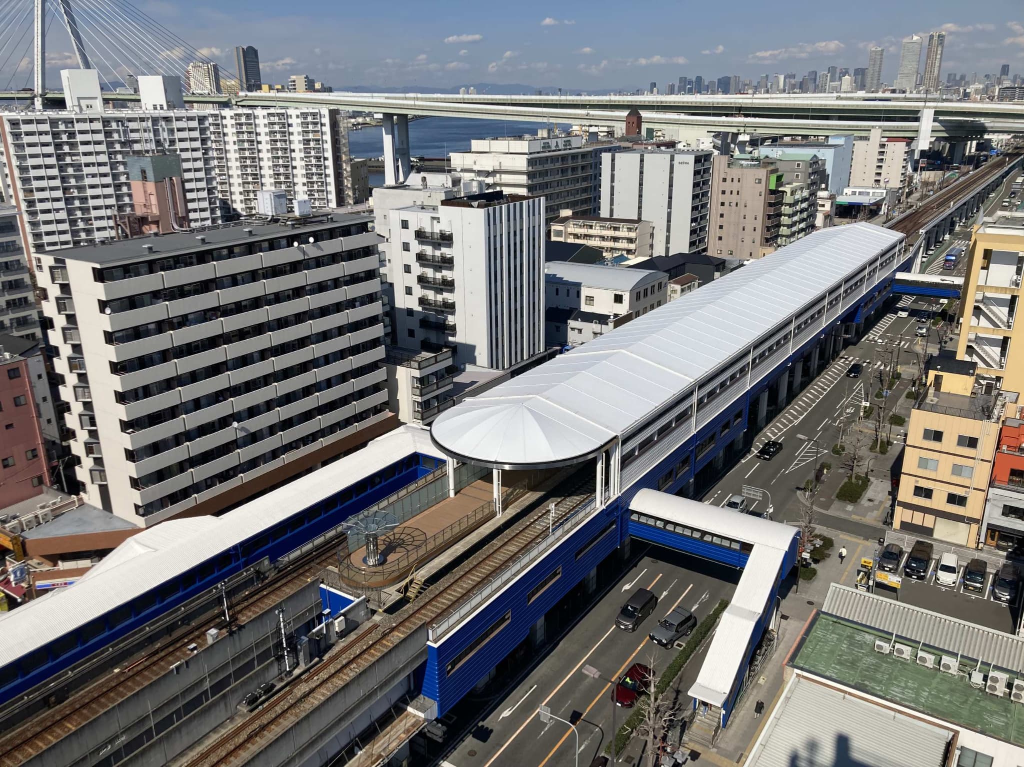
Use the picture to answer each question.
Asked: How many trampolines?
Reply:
0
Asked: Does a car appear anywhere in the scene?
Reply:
Yes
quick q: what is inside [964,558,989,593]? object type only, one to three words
car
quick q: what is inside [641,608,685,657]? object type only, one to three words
car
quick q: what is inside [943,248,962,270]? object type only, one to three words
vehicle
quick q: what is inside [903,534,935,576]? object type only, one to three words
vehicle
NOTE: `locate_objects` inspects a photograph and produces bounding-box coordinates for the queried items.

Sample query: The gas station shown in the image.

[847,186,893,216]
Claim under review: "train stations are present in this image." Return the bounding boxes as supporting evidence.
[284,223,908,758]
